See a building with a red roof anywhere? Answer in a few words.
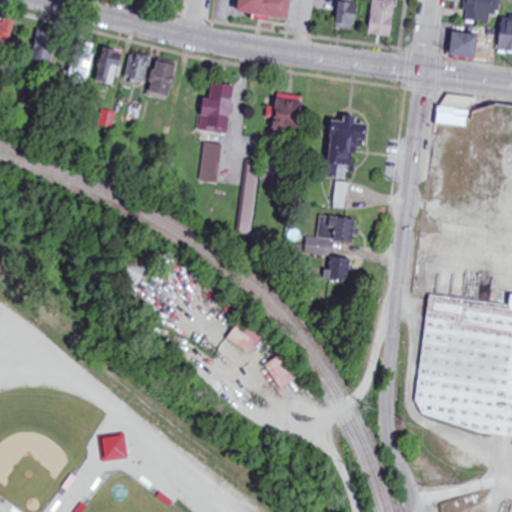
Yes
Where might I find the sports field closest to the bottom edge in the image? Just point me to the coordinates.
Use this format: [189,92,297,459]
[84,471,174,512]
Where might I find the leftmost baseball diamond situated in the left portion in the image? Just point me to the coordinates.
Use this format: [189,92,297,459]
[0,387,104,512]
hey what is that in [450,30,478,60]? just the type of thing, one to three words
house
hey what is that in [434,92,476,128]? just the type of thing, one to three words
building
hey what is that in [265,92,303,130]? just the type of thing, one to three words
house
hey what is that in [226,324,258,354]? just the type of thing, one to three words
building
